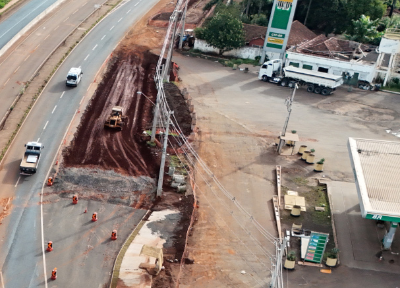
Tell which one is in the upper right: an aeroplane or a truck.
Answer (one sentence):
What appears in the upper right is a truck.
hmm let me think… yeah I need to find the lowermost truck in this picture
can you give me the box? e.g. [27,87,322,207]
[20,141,43,168]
